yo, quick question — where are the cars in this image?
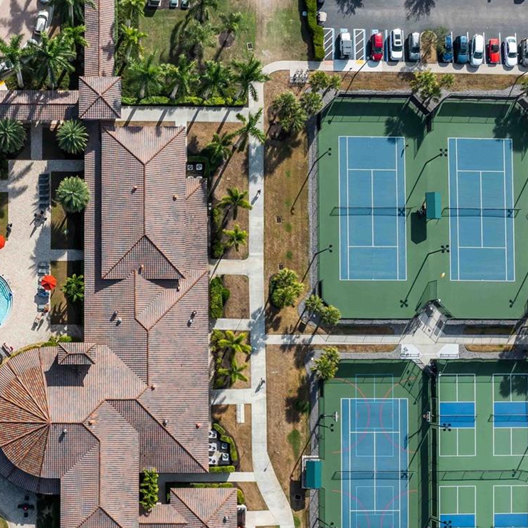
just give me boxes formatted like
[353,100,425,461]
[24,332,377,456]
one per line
[468,34,485,68]
[486,40,501,66]
[440,34,456,64]
[33,9,49,39]
[0,60,16,78]
[502,38,519,68]
[388,30,404,60]
[455,36,469,64]
[518,39,528,69]
[407,32,422,62]
[369,32,385,62]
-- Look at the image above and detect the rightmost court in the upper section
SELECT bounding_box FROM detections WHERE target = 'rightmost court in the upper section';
[427,97,528,319]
